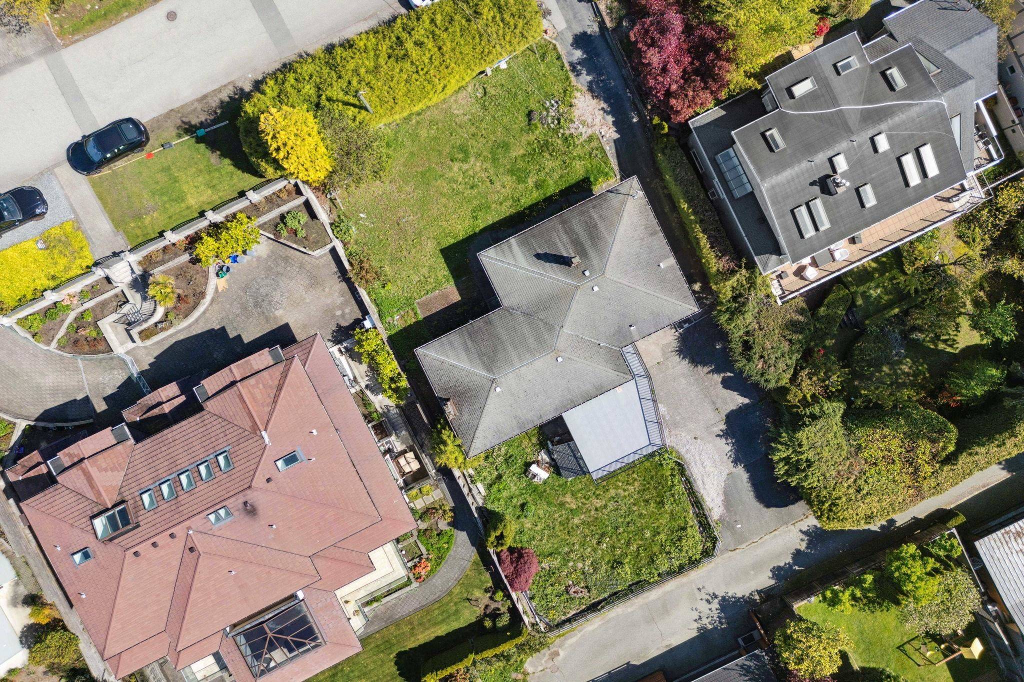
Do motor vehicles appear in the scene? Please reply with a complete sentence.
Yes, you can see a motor vehicle in this photo.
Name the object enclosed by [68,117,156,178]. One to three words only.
car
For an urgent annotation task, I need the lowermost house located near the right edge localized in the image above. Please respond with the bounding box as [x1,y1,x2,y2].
[963,513,1024,663]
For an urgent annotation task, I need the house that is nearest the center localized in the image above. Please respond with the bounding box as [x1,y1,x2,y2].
[413,174,703,461]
